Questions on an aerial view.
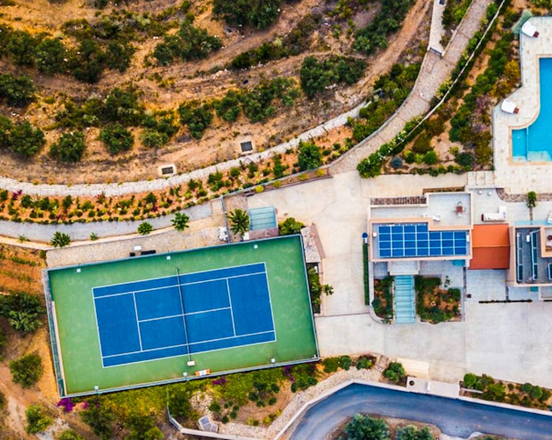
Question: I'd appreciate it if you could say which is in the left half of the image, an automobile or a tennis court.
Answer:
tennis court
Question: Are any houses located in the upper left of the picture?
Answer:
No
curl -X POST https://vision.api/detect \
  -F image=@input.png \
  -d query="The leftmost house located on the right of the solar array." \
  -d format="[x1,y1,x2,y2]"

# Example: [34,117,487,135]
[467,223,511,270]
